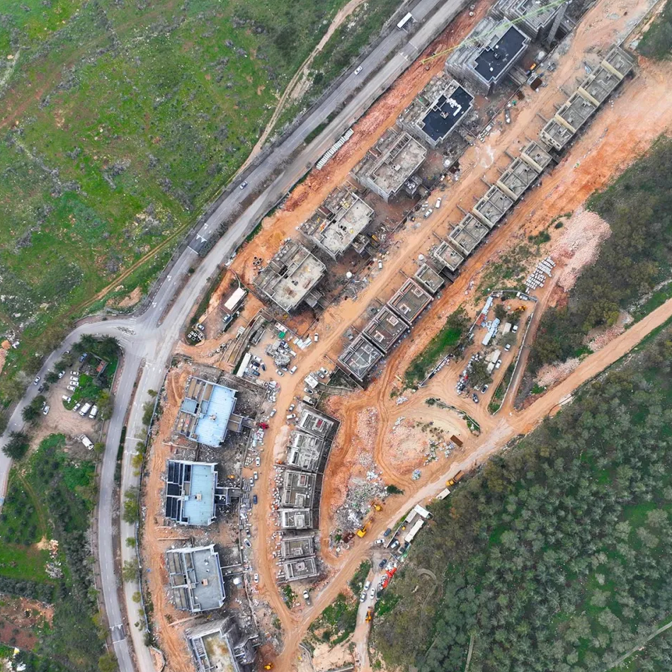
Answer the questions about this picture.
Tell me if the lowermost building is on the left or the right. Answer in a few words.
left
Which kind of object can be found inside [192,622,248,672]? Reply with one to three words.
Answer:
building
